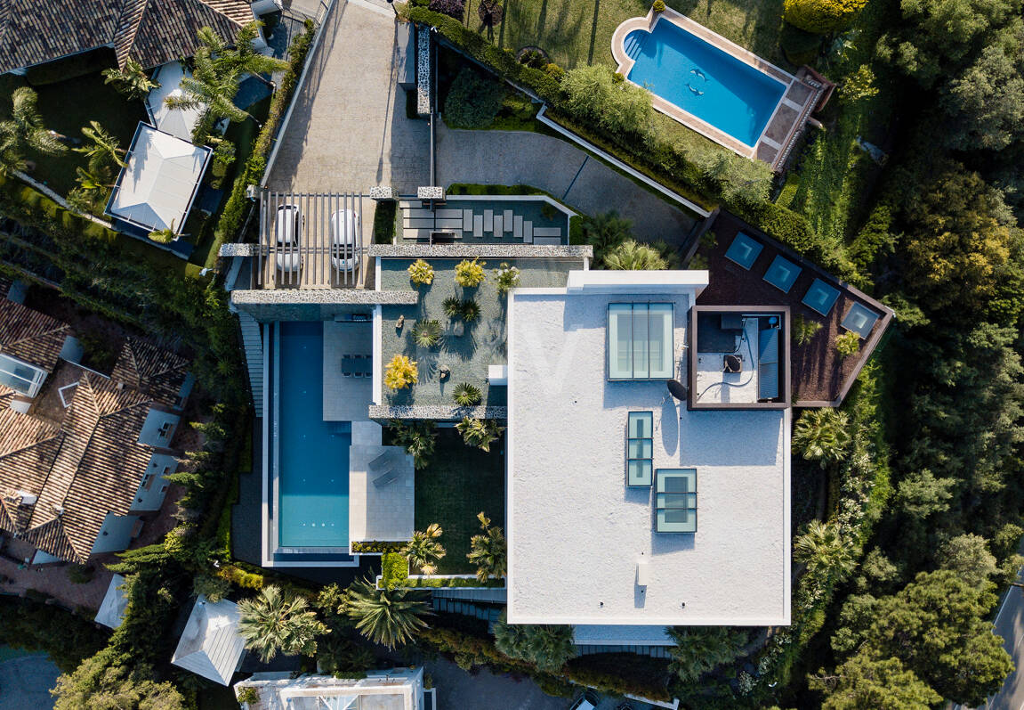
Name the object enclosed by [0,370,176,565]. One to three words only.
house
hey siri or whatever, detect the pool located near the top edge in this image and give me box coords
[606,0,799,158]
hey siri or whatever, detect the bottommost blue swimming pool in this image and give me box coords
[263,320,366,565]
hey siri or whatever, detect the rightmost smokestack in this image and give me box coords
[488,366,507,386]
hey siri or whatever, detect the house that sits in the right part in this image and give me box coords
[502,271,791,644]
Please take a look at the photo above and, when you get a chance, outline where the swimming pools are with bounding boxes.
[606,0,799,158]
[263,320,366,565]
